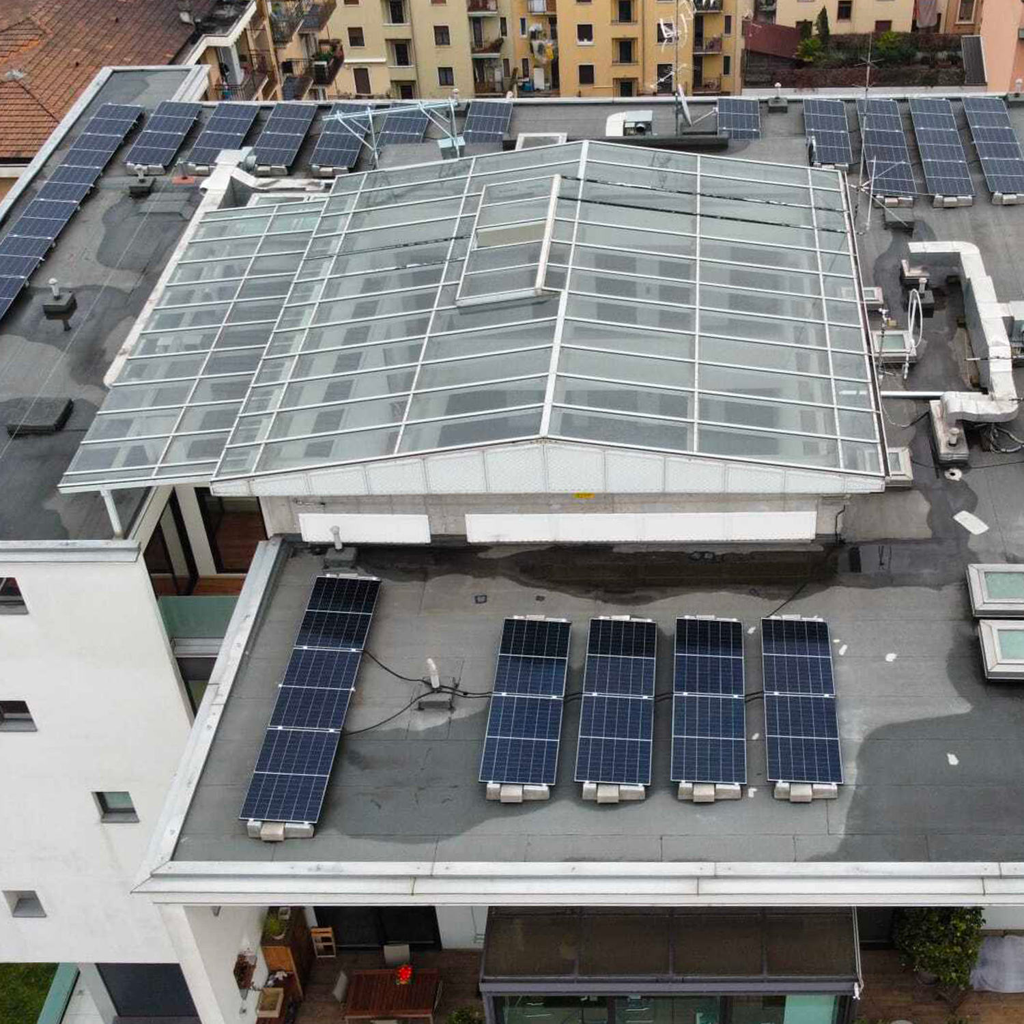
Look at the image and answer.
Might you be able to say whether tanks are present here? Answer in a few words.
No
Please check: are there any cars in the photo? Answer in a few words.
No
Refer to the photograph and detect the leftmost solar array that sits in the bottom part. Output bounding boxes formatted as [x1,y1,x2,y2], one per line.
[239,574,382,849]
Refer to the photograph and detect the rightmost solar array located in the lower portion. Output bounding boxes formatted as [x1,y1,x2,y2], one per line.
[759,614,847,807]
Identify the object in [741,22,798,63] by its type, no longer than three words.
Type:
shed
